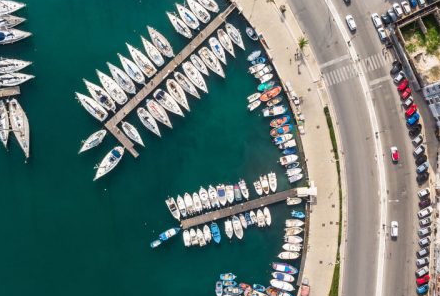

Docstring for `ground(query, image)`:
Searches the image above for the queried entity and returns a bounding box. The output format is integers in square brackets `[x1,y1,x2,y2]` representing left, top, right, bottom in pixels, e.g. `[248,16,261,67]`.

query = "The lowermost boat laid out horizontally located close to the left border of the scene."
[0,70,35,87]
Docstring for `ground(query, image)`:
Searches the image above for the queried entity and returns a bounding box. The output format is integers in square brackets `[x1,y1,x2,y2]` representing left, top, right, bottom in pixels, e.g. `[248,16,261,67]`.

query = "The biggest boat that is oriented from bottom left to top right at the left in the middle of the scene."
[92,144,126,181]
